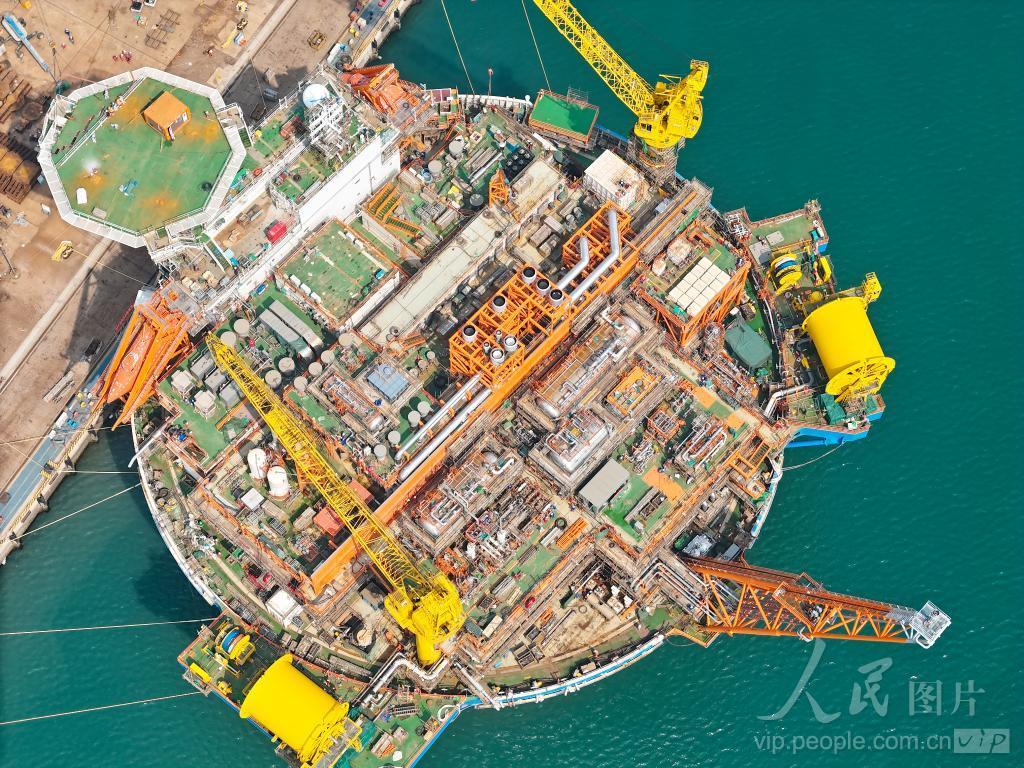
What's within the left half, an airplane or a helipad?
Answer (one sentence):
The feature located within the left half is a helipad.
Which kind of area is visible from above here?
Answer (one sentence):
What you see here is a port.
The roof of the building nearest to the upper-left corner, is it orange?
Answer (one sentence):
Yes, the roof of the building nearest to the upper-left corner is orange.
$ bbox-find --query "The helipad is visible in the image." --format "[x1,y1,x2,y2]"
[35,65,257,264]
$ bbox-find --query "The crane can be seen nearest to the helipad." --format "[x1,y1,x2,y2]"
[200,321,467,644]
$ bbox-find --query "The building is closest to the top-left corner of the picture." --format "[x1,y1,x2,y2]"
[140,91,190,144]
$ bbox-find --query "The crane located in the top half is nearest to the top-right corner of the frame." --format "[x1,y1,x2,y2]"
[534,0,712,203]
